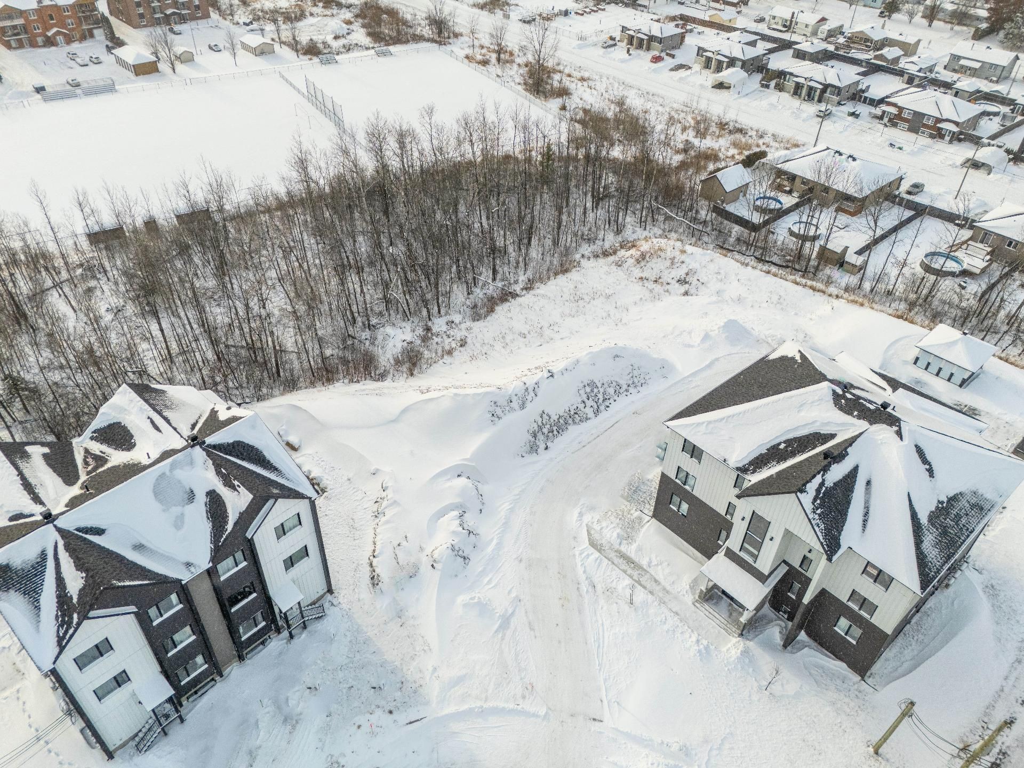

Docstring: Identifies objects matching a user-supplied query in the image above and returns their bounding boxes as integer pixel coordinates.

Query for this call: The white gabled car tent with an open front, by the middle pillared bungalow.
[713,70,751,94]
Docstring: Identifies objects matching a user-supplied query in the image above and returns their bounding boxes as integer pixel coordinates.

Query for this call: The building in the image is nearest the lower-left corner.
[0,380,332,759]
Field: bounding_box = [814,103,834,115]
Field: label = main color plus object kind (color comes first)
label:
white vehicle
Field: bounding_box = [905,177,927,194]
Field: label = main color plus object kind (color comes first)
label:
gray car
